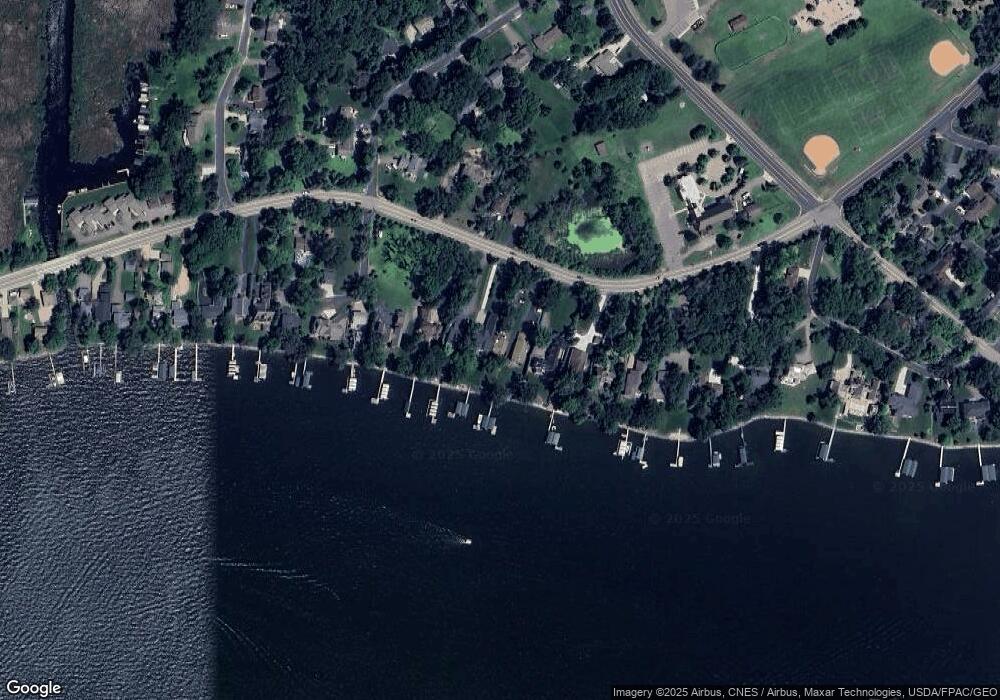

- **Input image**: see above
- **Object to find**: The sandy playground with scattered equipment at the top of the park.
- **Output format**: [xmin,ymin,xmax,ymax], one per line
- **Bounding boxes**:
[795,0,863,35]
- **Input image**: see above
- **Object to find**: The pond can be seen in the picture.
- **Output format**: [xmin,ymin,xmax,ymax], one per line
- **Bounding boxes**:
[568,207,624,255]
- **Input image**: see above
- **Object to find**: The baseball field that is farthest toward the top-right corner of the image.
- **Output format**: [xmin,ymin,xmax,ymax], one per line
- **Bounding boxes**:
[929,34,973,83]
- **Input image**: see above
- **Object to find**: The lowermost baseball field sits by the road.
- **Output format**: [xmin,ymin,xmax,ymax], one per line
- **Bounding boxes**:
[797,134,846,179]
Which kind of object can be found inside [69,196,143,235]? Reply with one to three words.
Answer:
building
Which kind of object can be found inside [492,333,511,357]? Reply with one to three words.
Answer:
house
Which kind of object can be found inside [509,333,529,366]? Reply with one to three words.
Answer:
house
